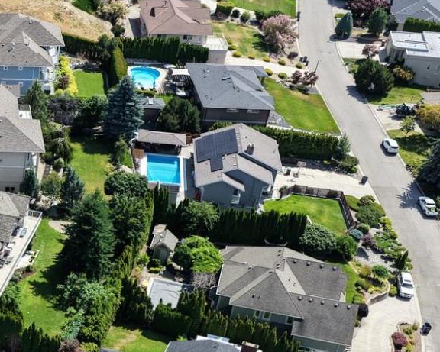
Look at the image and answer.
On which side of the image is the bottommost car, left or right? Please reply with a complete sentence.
The bottommost car sits on the right side.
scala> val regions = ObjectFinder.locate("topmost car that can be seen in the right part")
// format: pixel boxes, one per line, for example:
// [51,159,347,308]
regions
[379,137,402,156]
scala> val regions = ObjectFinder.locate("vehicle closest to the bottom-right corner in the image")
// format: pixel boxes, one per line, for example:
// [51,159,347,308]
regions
[395,273,416,301]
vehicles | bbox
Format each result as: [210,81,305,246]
[411,193,440,221]
[379,137,402,156]
[395,273,416,301]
